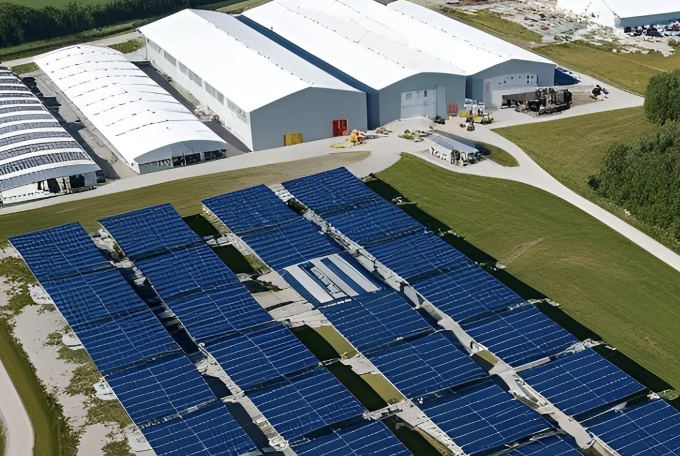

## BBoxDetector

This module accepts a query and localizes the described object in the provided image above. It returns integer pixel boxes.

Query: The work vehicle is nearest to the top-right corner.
[592,80,612,102]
